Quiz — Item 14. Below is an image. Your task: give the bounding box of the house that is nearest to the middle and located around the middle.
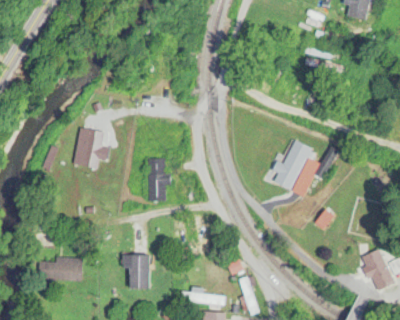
[148,158,174,200]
